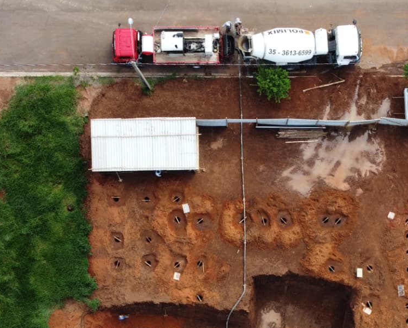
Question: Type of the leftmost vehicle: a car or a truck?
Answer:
truck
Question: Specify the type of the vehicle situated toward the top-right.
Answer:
truck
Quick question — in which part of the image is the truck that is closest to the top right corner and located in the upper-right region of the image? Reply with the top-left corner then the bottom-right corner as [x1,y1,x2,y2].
[240,23,365,73]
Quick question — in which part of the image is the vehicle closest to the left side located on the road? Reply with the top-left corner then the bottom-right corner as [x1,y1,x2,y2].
[110,20,236,69]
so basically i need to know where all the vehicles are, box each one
[110,20,236,69]
[240,23,365,73]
